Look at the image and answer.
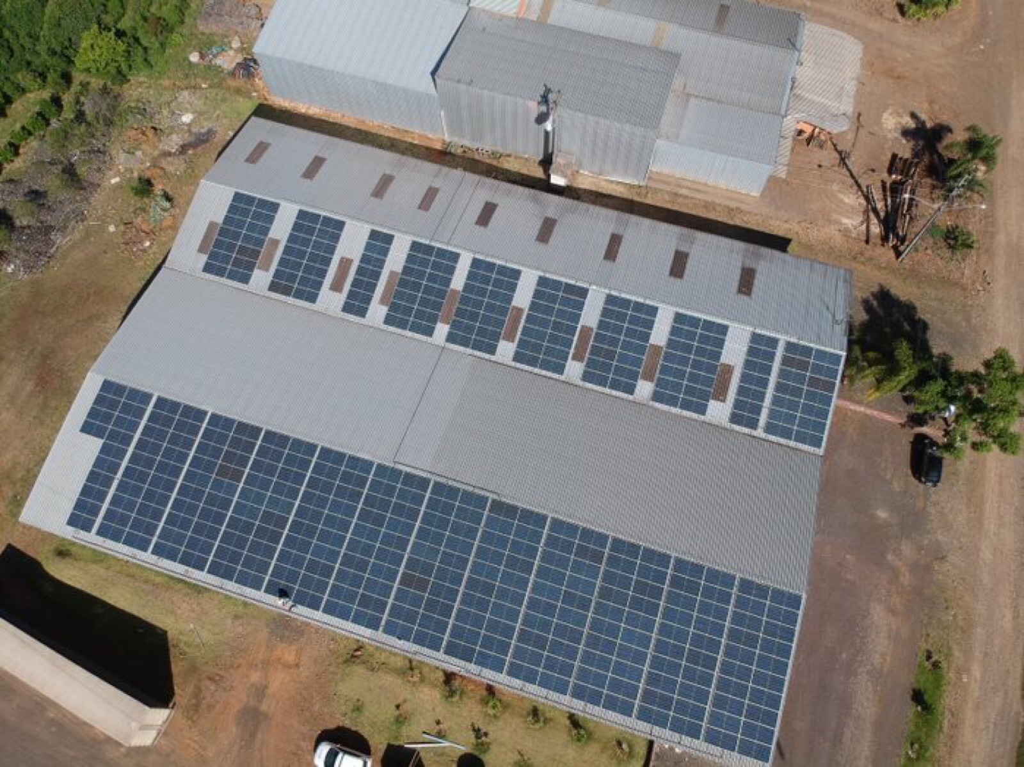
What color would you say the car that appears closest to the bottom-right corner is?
black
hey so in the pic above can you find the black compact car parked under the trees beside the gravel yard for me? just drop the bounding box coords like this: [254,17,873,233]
[911,436,945,489]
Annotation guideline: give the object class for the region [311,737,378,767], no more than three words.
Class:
car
